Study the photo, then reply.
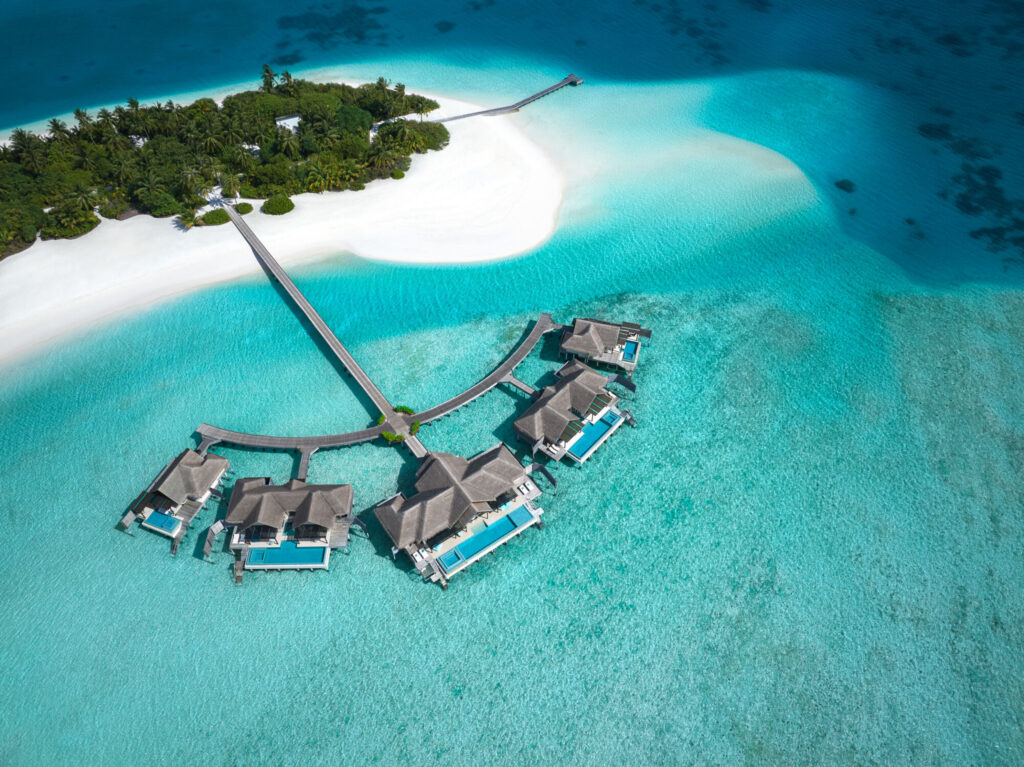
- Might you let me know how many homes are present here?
5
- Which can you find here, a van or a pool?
pool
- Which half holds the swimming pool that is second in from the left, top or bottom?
bottom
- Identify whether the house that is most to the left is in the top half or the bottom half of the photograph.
bottom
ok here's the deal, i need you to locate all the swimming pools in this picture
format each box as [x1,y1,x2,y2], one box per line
[435,504,538,578]
[567,409,623,464]
[622,340,642,367]
[142,510,187,540]
[244,541,331,569]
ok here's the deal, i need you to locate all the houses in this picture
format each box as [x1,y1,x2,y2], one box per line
[203,473,372,586]
[562,317,651,380]
[120,447,234,560]
[512,361,637,468]
[375,441,557,595]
